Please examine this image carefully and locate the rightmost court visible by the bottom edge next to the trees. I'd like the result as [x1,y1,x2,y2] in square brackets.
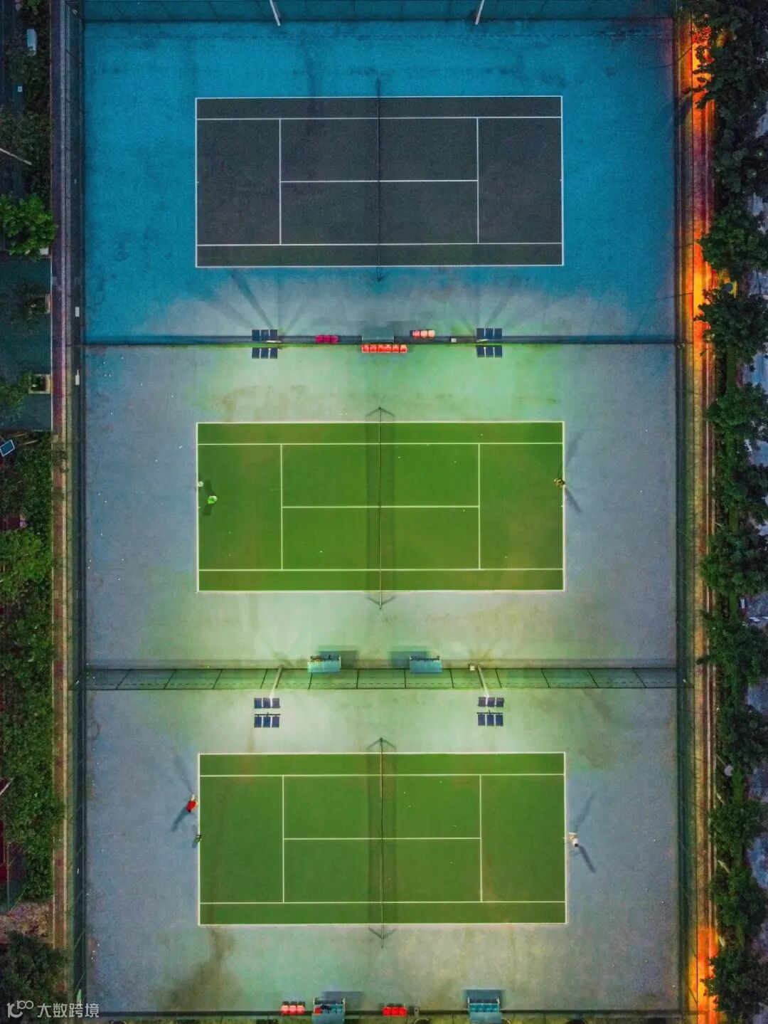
[86,667,677,1014]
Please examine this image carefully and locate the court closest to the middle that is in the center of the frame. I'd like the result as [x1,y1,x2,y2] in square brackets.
[85,346,676,670]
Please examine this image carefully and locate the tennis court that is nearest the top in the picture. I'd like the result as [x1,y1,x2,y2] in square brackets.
[83,0,674,345]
